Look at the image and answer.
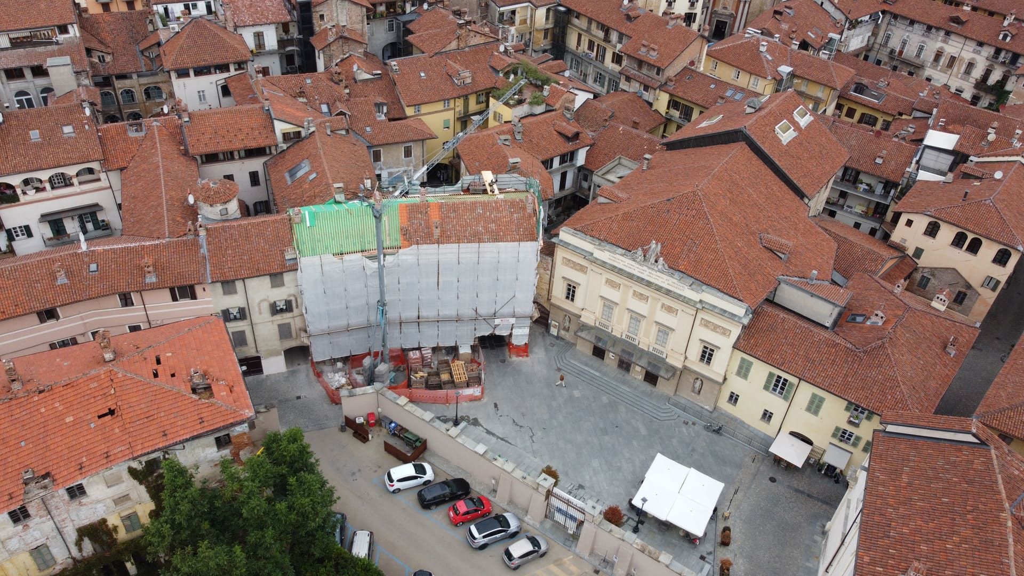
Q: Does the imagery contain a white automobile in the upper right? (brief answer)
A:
No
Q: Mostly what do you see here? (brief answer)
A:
buildings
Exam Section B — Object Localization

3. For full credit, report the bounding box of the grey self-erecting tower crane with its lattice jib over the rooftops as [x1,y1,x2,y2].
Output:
[359,75,529,389]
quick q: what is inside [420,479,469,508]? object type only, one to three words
car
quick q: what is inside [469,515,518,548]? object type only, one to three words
car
